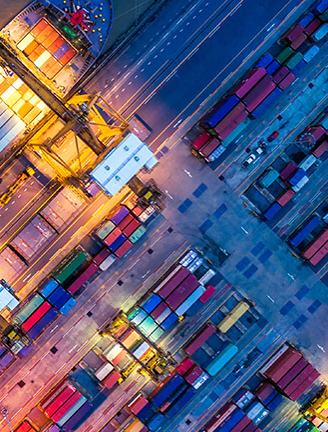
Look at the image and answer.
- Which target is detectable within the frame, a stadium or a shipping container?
shipping container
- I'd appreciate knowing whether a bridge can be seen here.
No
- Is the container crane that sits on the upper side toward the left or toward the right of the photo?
left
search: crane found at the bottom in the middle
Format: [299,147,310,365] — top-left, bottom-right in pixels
[98,310,179,386]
